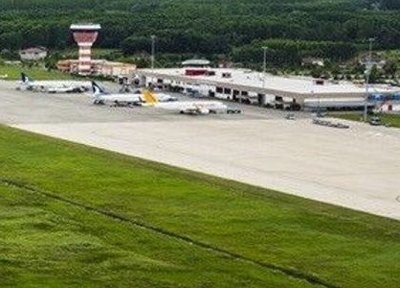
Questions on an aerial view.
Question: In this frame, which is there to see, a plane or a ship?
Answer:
plane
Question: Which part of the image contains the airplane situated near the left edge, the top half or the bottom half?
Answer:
top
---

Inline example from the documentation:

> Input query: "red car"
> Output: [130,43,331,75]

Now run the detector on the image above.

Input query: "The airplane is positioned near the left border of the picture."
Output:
[16,64,90,90]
